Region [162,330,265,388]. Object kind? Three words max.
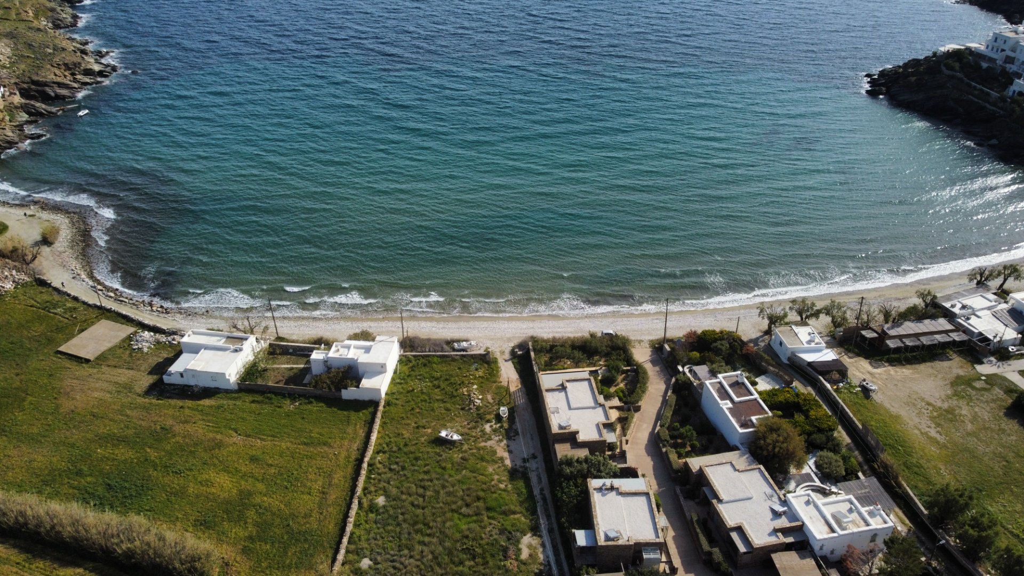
house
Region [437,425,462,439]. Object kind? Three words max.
boat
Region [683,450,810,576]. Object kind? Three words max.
house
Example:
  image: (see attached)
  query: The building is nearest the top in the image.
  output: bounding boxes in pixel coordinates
[972,16,1024,76]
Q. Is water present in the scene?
Yes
